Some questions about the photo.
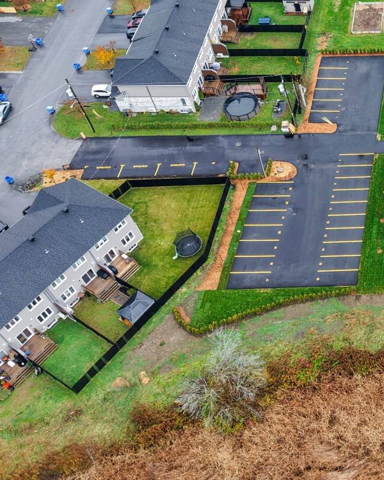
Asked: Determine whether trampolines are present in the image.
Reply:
Yes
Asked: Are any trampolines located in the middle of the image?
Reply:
Yes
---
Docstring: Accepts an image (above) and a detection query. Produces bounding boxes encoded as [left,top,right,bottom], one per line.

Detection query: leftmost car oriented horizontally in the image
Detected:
[85,82,117,96]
